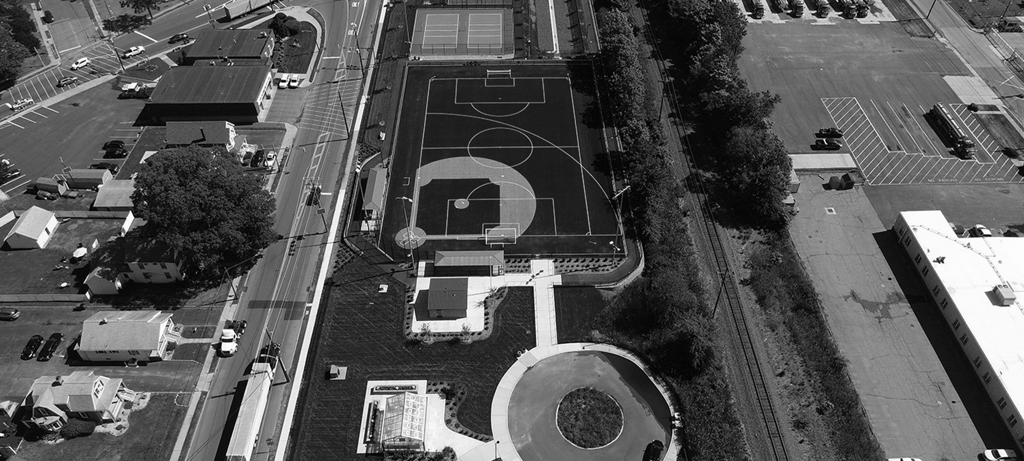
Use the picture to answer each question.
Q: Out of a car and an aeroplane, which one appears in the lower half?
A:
car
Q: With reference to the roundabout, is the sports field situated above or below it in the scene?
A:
above it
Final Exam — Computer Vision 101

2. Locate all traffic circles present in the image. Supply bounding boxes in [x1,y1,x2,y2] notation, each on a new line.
[506,350,674,461]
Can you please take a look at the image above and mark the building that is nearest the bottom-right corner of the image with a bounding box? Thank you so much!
[890,210,1024,457]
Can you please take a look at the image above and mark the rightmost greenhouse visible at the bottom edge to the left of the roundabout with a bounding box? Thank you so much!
[381,391,427,450]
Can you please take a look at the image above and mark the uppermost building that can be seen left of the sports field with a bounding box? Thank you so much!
[144,29,280,123]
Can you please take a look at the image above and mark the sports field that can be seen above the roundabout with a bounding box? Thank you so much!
[380,60,632,261]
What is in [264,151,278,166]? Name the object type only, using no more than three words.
car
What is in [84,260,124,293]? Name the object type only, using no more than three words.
building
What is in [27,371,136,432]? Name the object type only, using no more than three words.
house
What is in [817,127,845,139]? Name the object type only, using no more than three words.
vehicle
